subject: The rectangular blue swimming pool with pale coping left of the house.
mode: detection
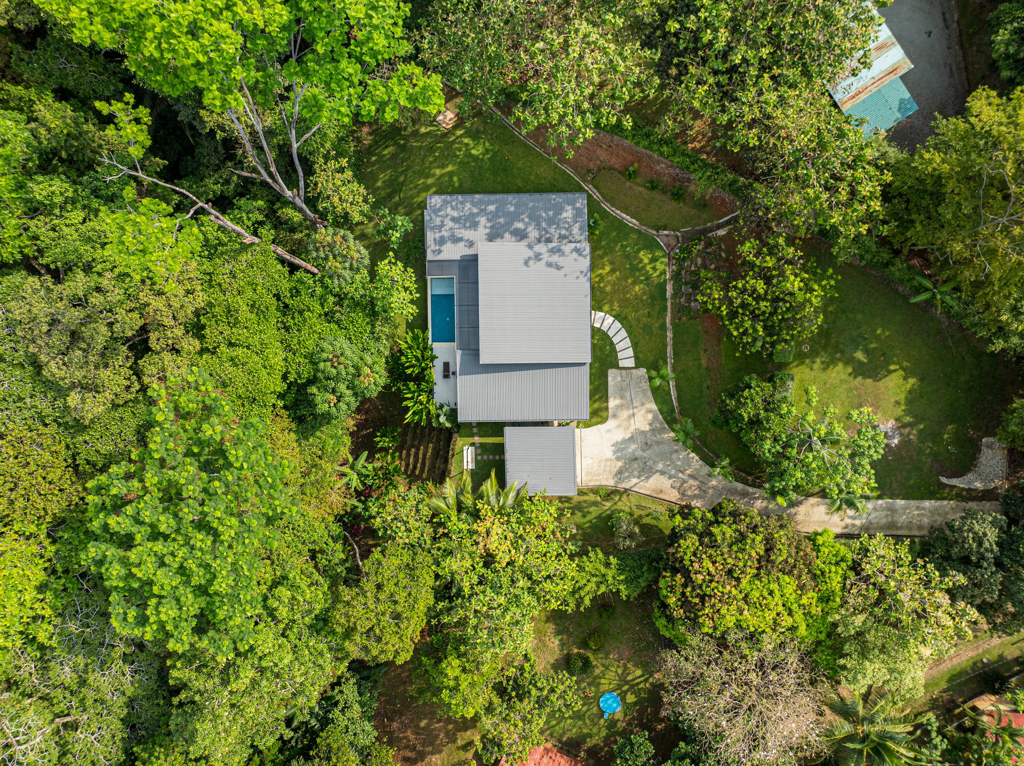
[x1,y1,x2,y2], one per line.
[427,277,456,365]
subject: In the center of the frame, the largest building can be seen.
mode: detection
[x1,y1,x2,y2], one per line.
[424,192,592,423]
